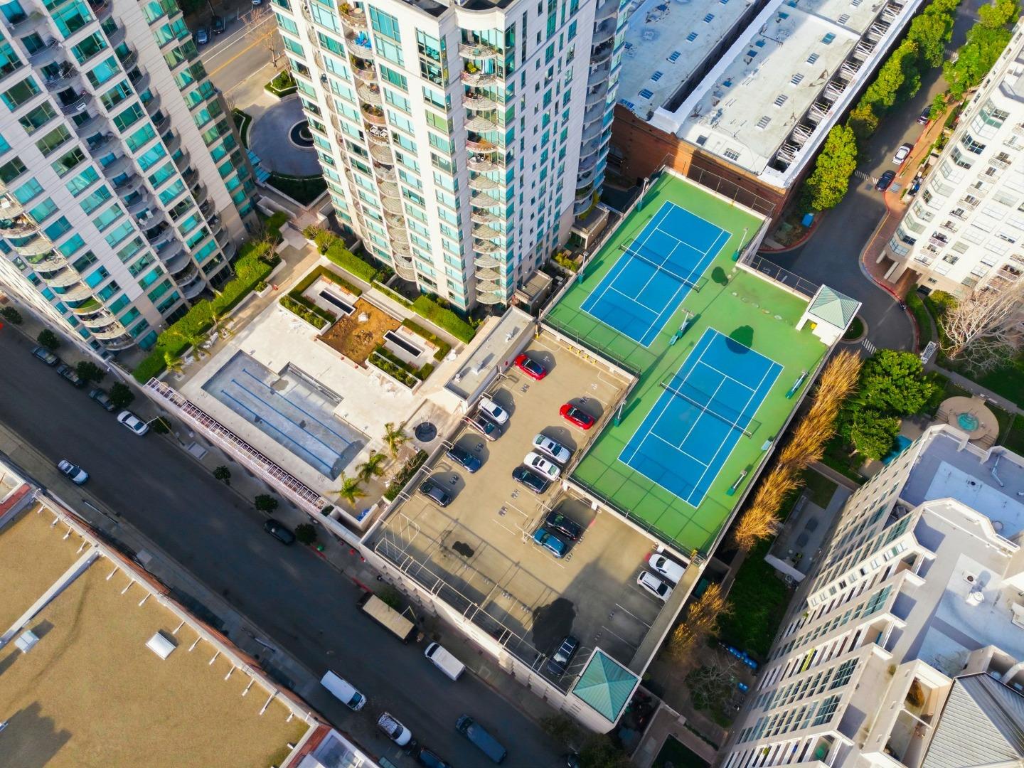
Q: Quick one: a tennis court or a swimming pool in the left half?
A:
swimming pool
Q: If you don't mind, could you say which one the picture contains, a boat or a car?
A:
car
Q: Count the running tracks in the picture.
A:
none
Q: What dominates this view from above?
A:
buildings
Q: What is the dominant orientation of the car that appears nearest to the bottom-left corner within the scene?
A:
at an angle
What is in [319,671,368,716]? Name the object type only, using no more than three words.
van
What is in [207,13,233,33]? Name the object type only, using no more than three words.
car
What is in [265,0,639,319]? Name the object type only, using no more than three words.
building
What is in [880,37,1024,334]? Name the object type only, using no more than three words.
building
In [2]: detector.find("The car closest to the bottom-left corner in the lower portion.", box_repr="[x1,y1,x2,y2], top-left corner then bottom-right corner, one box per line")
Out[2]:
[58,456,91,485]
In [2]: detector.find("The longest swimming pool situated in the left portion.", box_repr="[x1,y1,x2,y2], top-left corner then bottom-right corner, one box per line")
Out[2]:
[200,347,372,483]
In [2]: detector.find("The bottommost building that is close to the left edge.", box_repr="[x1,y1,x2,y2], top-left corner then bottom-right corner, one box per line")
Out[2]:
[0,485,335,768]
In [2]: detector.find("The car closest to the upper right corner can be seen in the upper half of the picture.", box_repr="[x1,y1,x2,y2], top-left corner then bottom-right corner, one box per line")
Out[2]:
[918,104,936,125]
